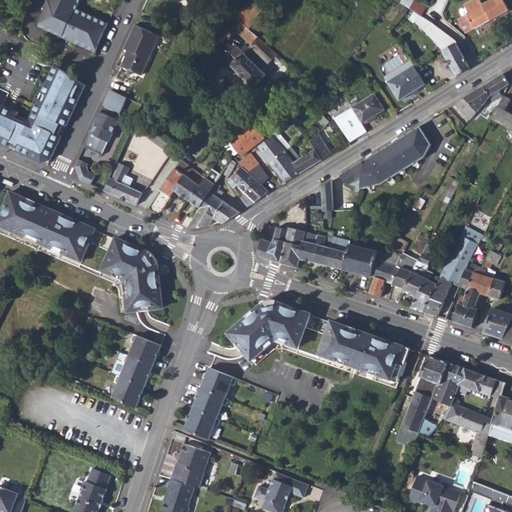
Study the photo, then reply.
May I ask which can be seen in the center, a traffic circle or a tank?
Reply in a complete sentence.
The one visible in the center is a traffic circle.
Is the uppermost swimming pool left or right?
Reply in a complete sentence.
The uppermost swimming pool is on the right side of the image.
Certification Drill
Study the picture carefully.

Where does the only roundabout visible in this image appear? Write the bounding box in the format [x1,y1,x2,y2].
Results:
[188,229,254,295]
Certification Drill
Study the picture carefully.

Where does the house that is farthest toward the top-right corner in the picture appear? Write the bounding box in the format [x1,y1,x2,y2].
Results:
[457,0,509,32]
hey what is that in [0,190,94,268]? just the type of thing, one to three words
building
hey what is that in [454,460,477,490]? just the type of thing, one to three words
swimming pool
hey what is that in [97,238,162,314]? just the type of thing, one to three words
building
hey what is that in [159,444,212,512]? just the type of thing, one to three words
house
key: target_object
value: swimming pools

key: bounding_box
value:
[466,493,492,512]
[454,460,477,490]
